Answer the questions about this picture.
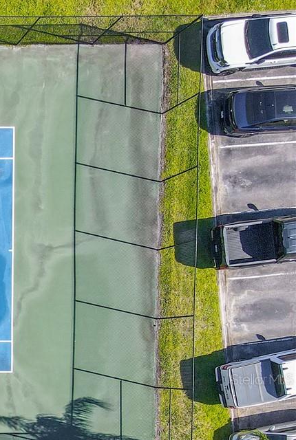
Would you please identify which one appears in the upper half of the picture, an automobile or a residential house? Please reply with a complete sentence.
Visible in the upper half of the picture is an automobile.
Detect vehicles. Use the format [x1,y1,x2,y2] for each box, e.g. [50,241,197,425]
[205,209,296,265]
[226,420,296,440]
[205,11,296,71]
[221,84,296,138]
[212,350,296,410]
